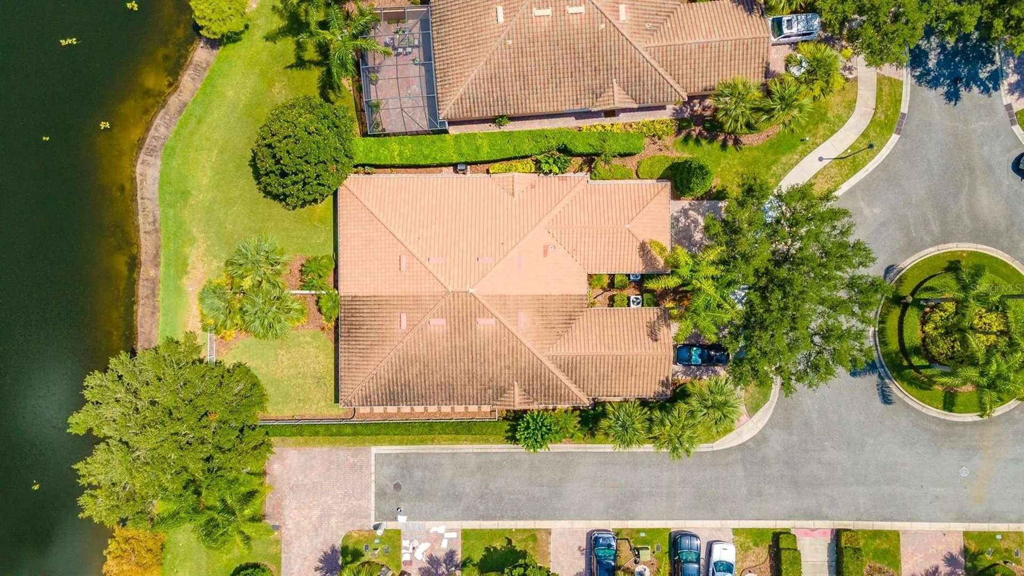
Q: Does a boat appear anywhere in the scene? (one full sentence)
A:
No, I can see no boat in this picture.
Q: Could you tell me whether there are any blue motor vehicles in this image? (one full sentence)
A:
Yes, the frame does contain a blue motor vehicle.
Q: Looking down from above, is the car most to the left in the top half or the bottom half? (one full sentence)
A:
Seen from above, the car most to the left lies in the bottom half of the view.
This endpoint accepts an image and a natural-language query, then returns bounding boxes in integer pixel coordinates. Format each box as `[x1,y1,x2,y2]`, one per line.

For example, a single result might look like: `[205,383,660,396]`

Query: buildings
[429,0,769,122]
[338,172,677,412]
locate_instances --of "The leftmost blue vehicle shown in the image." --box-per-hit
[593,529,617,576]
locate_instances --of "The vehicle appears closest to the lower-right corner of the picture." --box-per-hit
[711,541,736,576]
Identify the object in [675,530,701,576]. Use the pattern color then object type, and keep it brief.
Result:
blue car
